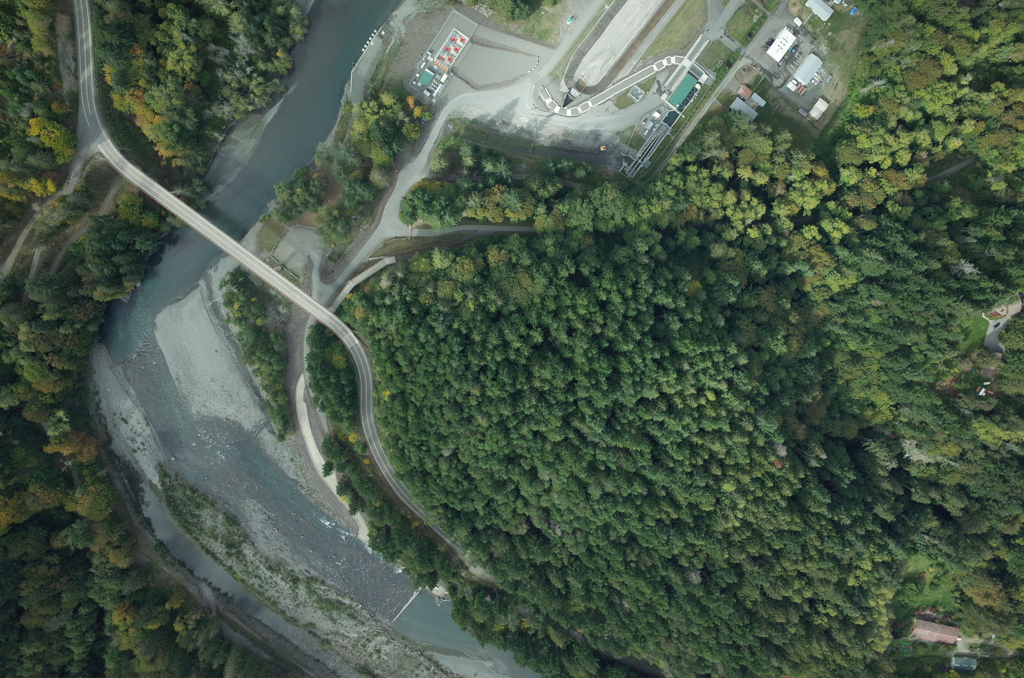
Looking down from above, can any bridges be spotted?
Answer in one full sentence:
Yes, I can see a bridge in this picture.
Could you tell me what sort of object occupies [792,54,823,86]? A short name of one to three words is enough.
barn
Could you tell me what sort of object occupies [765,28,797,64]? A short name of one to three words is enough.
building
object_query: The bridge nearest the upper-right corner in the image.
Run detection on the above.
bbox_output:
[663,34,709,92]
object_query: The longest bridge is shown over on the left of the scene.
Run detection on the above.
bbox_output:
[96,137,361,350]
